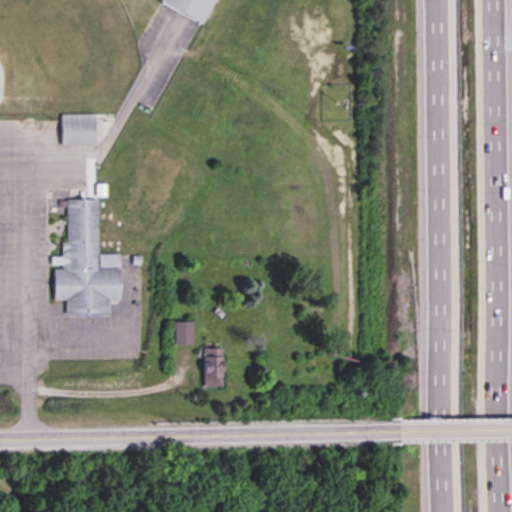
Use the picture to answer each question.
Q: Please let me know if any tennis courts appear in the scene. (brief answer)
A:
No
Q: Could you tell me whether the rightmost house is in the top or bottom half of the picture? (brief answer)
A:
bottom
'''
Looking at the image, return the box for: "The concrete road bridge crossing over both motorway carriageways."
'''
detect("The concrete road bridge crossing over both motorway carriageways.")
[393,418,512,445]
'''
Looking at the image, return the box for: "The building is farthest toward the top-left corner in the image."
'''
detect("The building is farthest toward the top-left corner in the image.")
[61,114,96,144]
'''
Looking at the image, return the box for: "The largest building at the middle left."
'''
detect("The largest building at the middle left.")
[51,200,122,316]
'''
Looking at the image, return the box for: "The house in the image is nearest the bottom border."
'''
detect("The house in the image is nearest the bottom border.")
[200,344,226,390]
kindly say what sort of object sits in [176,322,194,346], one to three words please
building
